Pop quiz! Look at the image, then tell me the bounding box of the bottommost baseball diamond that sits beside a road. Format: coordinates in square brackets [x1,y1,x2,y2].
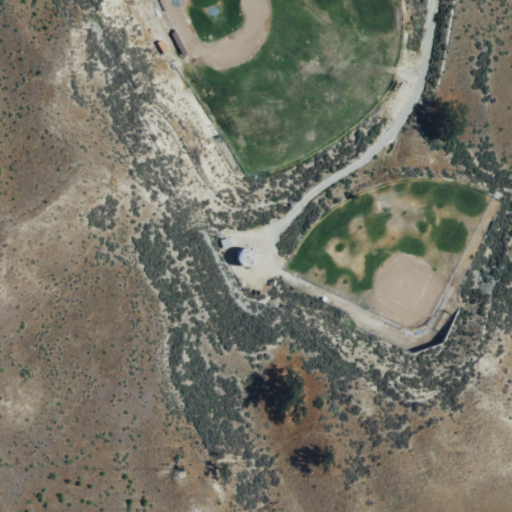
[284,179,494,327]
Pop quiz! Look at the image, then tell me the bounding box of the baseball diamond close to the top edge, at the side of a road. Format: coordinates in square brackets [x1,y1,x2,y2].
[165,0,403,176]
